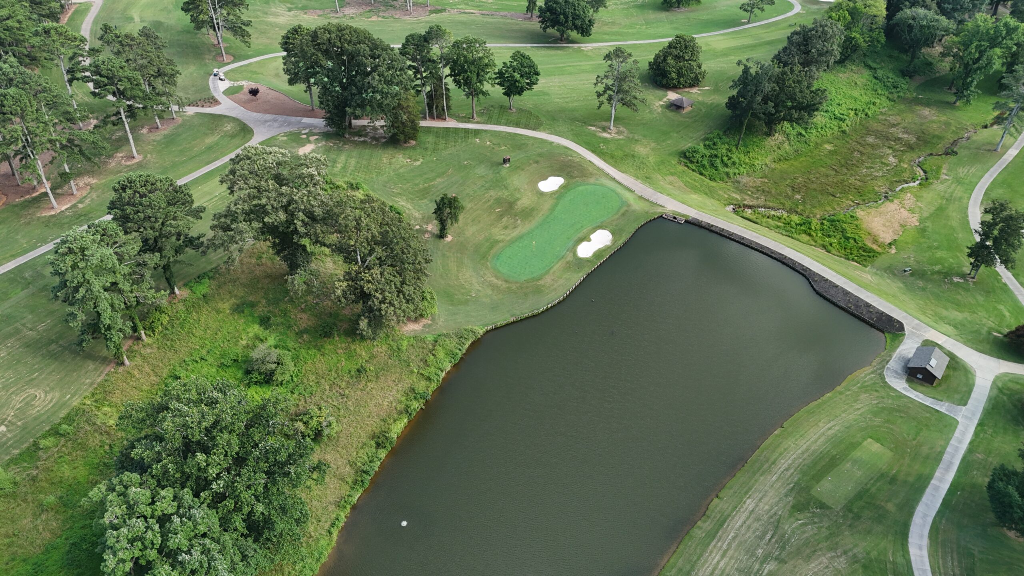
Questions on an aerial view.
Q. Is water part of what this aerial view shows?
Yes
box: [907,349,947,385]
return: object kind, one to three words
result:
shed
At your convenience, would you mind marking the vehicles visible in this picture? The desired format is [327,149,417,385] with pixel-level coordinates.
[217,72,226,82]
[212,68,218,77]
